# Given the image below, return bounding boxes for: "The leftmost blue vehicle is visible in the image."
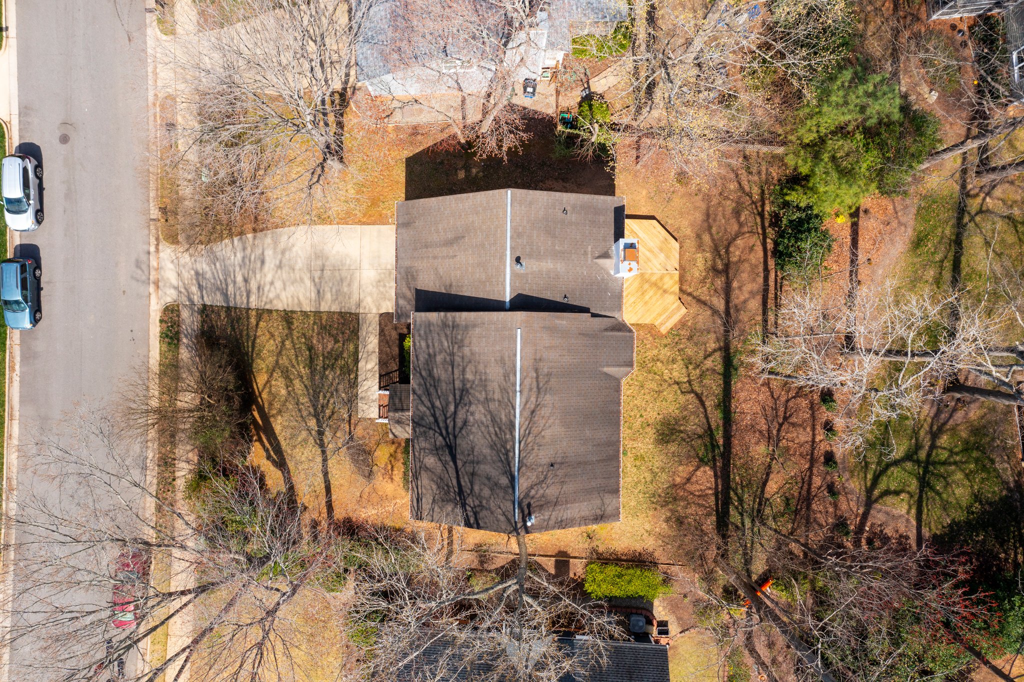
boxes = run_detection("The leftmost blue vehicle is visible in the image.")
[0,258,42,331]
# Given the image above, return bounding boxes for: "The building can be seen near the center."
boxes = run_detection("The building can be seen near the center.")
[374,189,640,534]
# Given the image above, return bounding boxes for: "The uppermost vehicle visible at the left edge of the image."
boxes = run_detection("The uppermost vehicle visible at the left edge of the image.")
[0,154,43,232]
